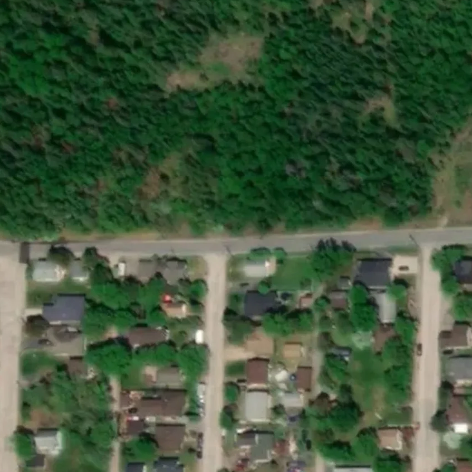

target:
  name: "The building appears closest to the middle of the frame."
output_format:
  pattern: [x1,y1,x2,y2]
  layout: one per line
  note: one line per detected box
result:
[242,262,269,279]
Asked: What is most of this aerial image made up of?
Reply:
trees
